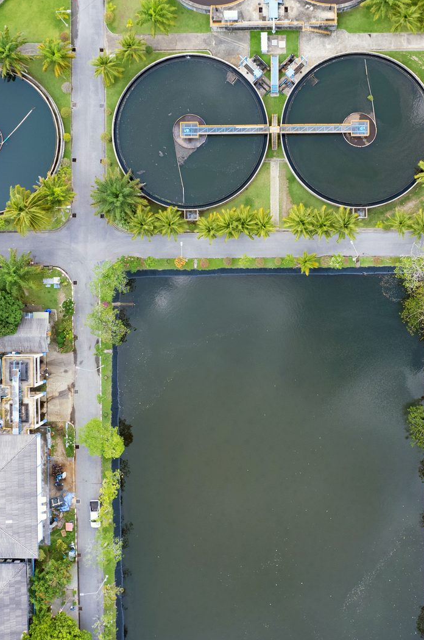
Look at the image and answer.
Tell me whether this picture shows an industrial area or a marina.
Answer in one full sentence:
What you see here is an industrial area.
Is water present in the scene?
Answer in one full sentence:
Yes, the picture does contain water.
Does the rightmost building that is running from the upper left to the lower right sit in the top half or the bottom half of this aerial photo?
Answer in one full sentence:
The top half of the photo is where the rightmost building that is running from the upper left to the lower right is.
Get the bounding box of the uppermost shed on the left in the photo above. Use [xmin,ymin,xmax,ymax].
[0,312,51,354]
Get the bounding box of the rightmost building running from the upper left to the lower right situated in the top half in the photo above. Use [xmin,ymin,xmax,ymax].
[237,55,271,95]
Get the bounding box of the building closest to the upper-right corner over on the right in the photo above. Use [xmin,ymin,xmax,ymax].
[279,55,311,94]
